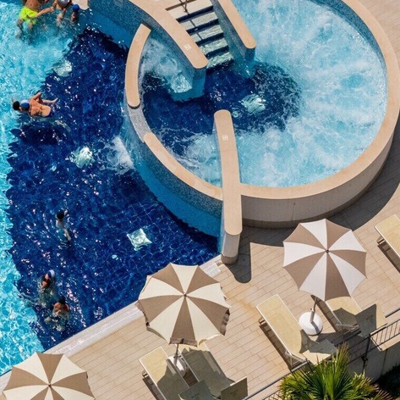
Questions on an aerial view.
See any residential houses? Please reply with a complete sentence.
No, this view has no residential house in it.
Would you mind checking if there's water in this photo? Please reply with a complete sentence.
Yes, water shows up in the scene.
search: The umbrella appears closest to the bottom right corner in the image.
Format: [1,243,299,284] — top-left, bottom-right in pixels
[281,223,369,334]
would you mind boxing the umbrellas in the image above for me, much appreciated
[0,354,98,400]
[135,268,231,367]
[281,223,369,334]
